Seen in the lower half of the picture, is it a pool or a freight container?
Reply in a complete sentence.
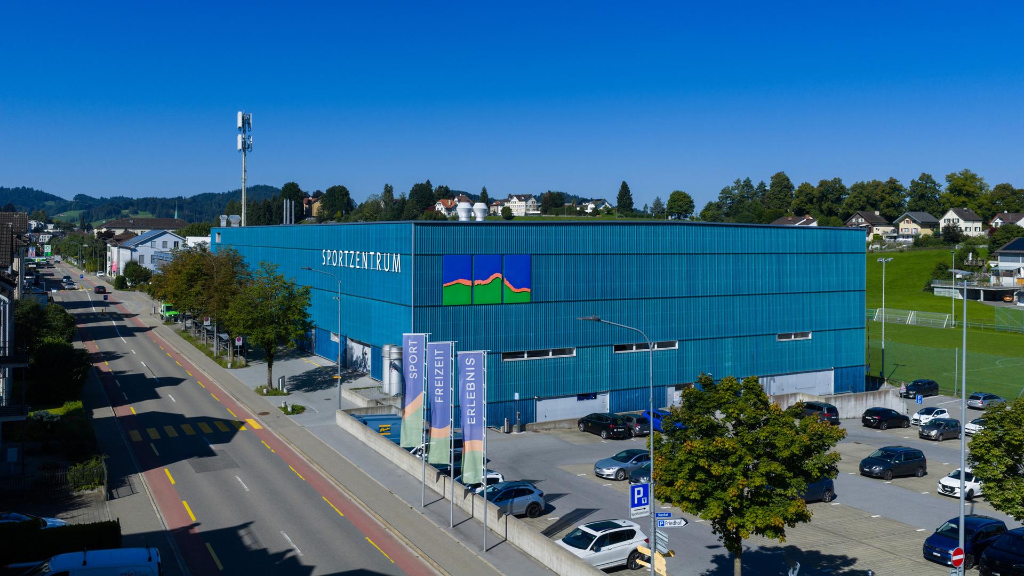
Visible in the lower half of the picture is a freight container.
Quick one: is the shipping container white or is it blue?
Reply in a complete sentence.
The shipping container looks blue in the image.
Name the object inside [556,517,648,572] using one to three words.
car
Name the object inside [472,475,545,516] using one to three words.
car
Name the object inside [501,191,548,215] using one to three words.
house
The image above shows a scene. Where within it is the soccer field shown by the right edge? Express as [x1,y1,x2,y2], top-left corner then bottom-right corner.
[863,324,1024,400]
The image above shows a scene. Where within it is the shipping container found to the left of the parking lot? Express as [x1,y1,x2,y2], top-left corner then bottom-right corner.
[348,407,399,444]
